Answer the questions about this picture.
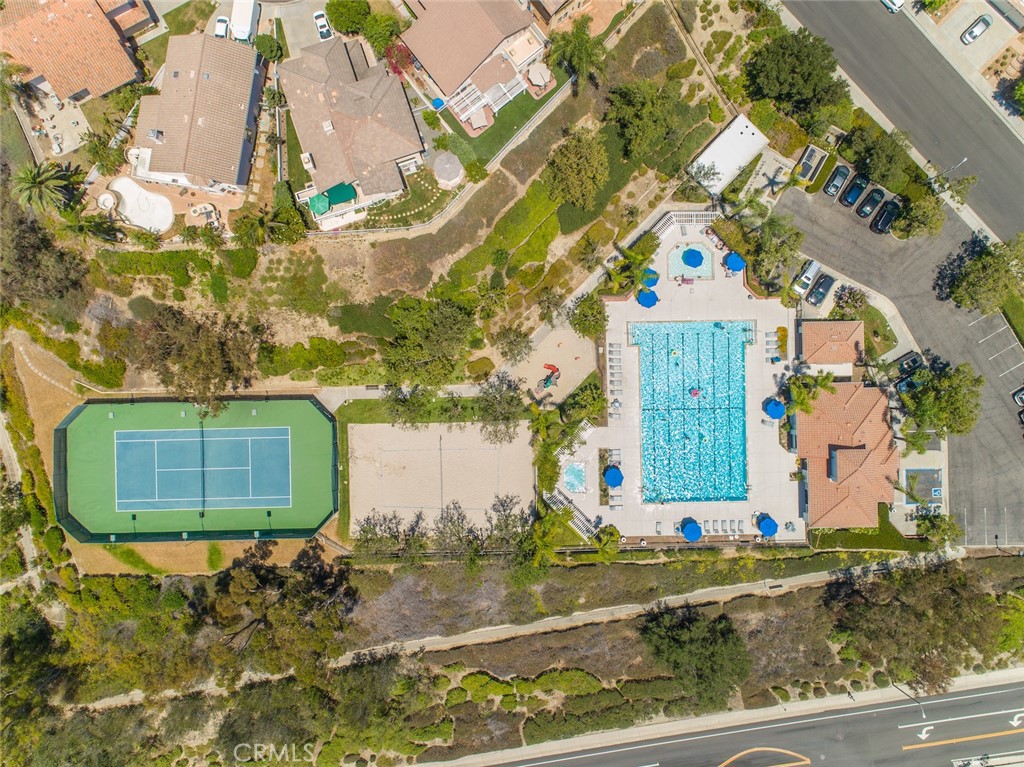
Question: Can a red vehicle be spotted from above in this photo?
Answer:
No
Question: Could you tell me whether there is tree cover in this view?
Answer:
Yes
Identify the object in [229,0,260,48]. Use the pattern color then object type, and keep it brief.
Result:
white camper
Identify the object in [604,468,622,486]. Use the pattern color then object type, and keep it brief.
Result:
blue umbrella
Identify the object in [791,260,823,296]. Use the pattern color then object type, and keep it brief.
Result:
white car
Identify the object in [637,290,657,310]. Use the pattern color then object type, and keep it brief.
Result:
blue umbrella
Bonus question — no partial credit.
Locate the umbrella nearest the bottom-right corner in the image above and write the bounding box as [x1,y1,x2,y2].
[757,516,776,535]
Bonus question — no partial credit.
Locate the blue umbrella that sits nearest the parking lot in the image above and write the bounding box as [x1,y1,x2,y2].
[725,253,745,273]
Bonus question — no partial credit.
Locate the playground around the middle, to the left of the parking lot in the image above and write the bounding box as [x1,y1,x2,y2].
[508,329,596,408]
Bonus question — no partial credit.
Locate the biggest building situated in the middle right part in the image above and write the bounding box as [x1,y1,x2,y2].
[791,382,900,529]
